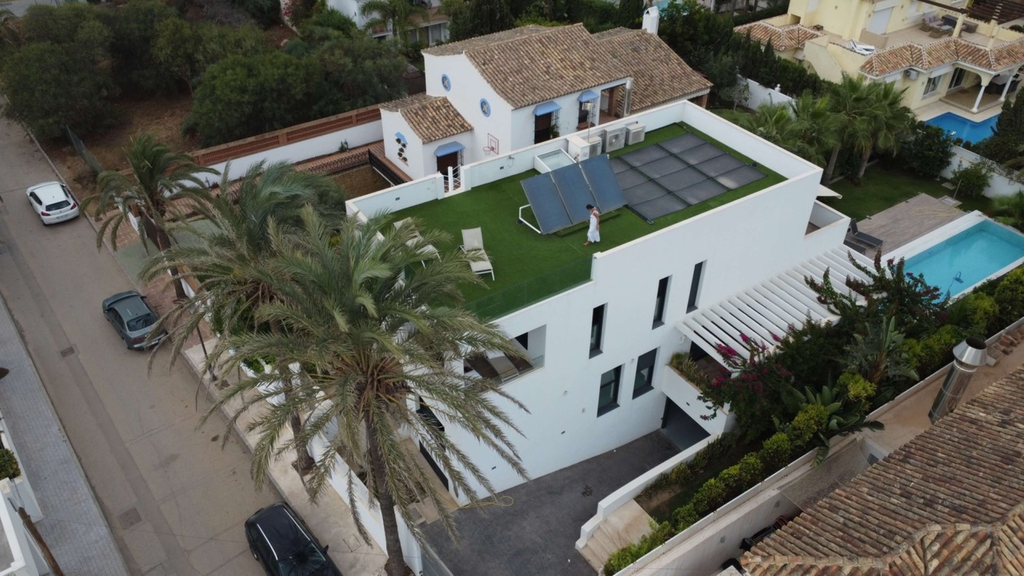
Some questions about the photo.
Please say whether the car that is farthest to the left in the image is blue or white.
white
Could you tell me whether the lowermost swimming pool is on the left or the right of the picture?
right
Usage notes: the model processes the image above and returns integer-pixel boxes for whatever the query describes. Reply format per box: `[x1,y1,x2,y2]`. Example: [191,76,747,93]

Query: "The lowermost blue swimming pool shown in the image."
[873,209,1024,296]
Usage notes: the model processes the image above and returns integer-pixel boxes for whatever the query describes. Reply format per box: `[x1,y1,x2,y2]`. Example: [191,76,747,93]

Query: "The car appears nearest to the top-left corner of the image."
[25,185,77,227]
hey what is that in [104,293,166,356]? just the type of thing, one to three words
car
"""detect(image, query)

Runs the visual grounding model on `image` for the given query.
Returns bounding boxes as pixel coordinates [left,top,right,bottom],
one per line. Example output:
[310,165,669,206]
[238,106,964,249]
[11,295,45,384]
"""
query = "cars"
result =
[25,185,77,227]
[104,293,166,356]
[248,503,350,576]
